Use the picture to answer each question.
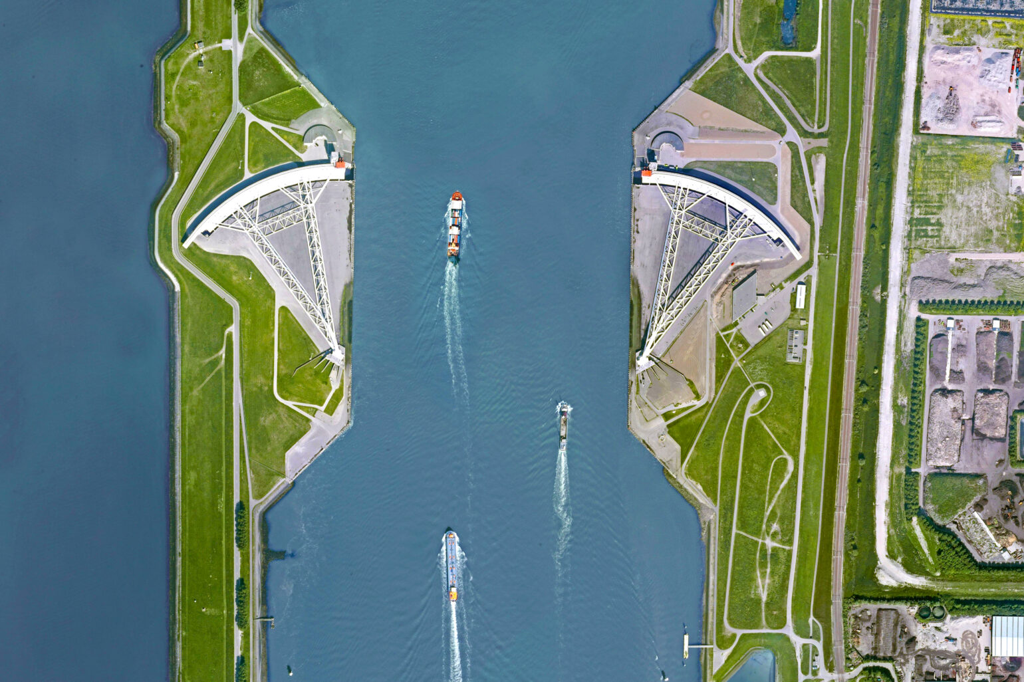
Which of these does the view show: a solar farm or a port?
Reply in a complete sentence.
The picture captures a port.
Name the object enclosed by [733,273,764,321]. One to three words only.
building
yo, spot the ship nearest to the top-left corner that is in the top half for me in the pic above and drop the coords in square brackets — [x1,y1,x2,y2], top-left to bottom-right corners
[448,192,462,256]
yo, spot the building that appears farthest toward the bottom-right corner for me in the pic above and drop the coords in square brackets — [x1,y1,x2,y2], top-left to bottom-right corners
[993,617,1024,657]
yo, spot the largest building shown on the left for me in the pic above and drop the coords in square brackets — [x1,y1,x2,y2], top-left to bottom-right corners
[303,124,335,143]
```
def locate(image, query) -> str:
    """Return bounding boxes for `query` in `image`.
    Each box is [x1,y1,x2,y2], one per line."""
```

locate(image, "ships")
[448,192,462,256]
[560,405,567,451]
[447,531,458,601]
